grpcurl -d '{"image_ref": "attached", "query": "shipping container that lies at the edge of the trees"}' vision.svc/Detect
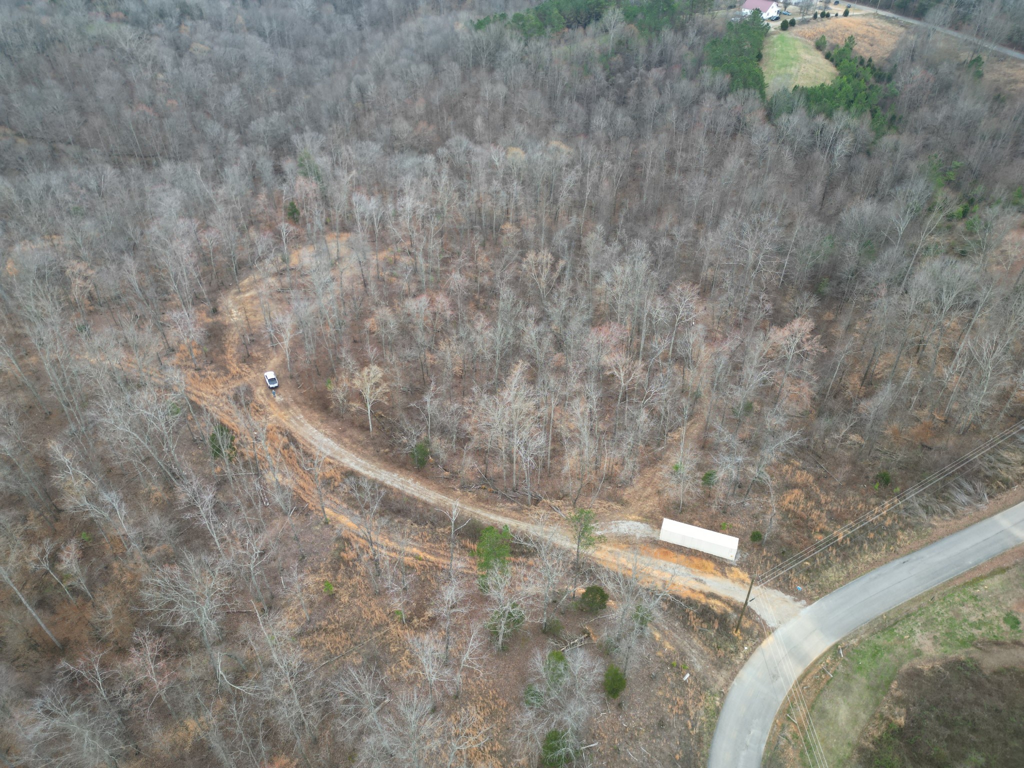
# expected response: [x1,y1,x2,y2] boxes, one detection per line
[660,518,739,560]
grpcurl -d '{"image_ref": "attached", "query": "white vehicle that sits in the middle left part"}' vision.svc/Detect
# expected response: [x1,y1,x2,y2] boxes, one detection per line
[263,370,278,390]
